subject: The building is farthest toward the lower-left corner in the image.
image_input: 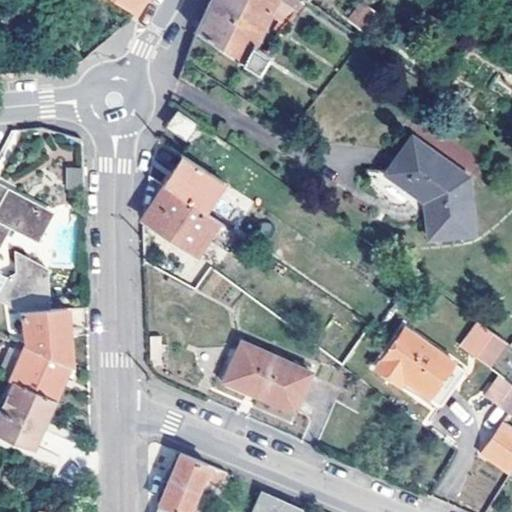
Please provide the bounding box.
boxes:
[0,384,58,452]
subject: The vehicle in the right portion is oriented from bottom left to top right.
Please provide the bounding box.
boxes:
[482,406,504,430]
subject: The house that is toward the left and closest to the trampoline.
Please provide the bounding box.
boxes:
[140,156,228,260]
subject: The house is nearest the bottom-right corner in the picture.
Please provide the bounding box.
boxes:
[480,422,512,476]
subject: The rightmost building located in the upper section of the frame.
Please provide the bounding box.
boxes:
[384,132,480,242]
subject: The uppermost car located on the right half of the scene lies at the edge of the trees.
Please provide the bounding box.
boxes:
[322,163,339,181]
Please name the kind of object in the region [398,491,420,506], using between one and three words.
car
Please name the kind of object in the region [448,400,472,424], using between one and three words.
vehicle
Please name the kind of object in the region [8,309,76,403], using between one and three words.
house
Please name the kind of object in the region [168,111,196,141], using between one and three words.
building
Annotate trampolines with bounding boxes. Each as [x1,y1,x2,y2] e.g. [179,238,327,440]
[258,218,276,237]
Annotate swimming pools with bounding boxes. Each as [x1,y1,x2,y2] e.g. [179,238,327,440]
[54,214,78,268]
